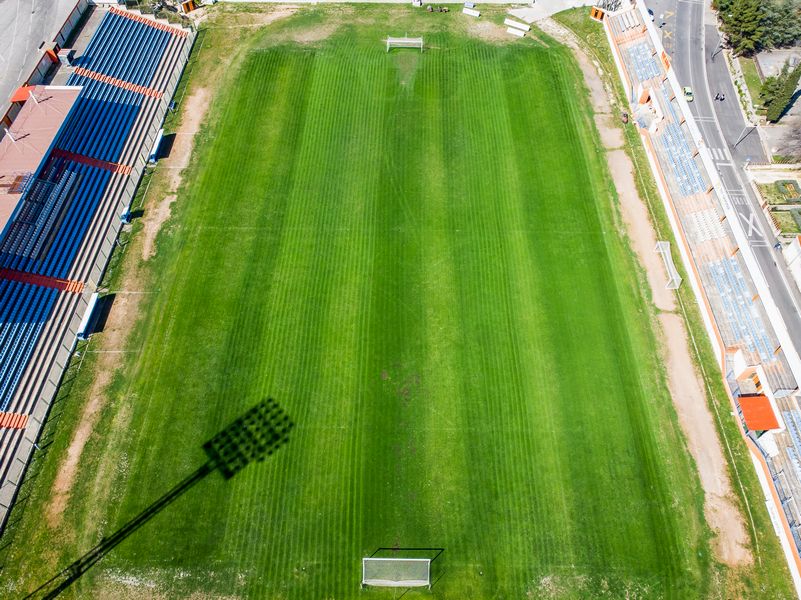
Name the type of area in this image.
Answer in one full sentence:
This image shows a sports ground.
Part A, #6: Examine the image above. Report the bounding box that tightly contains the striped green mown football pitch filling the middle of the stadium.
[81,41,722,600]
